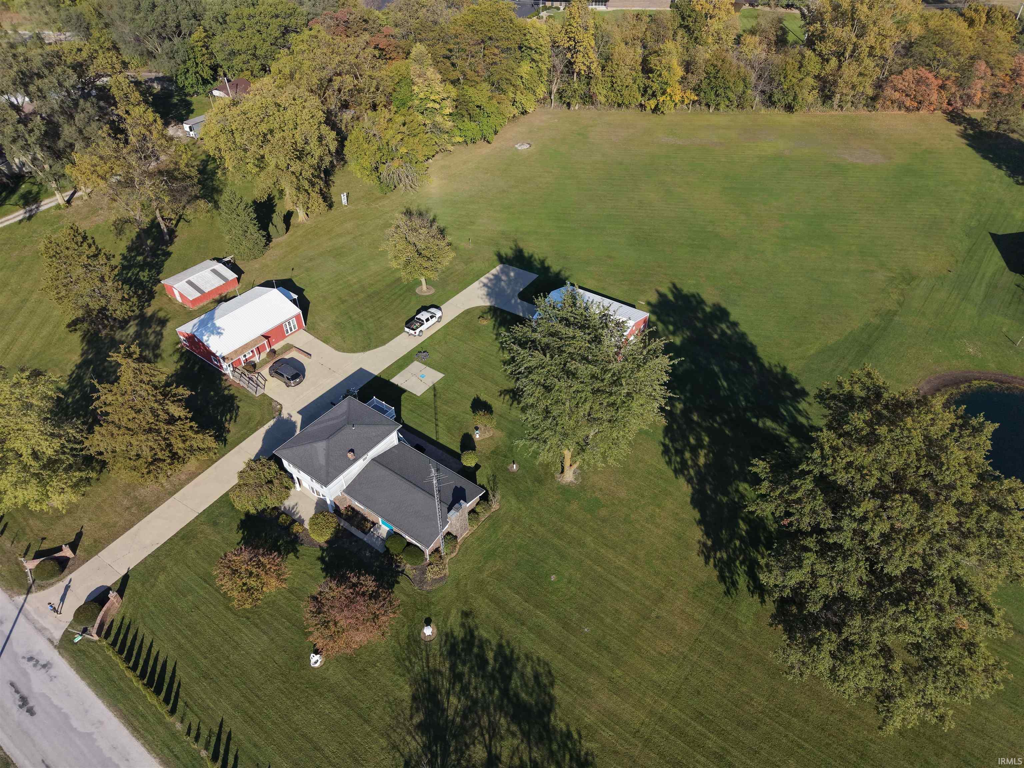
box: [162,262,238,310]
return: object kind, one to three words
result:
shed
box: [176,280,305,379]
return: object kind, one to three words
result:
building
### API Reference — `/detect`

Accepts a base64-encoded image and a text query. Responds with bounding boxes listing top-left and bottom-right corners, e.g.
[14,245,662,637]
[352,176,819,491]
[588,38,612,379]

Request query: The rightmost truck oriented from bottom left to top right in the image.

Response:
[404,308,445,338]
